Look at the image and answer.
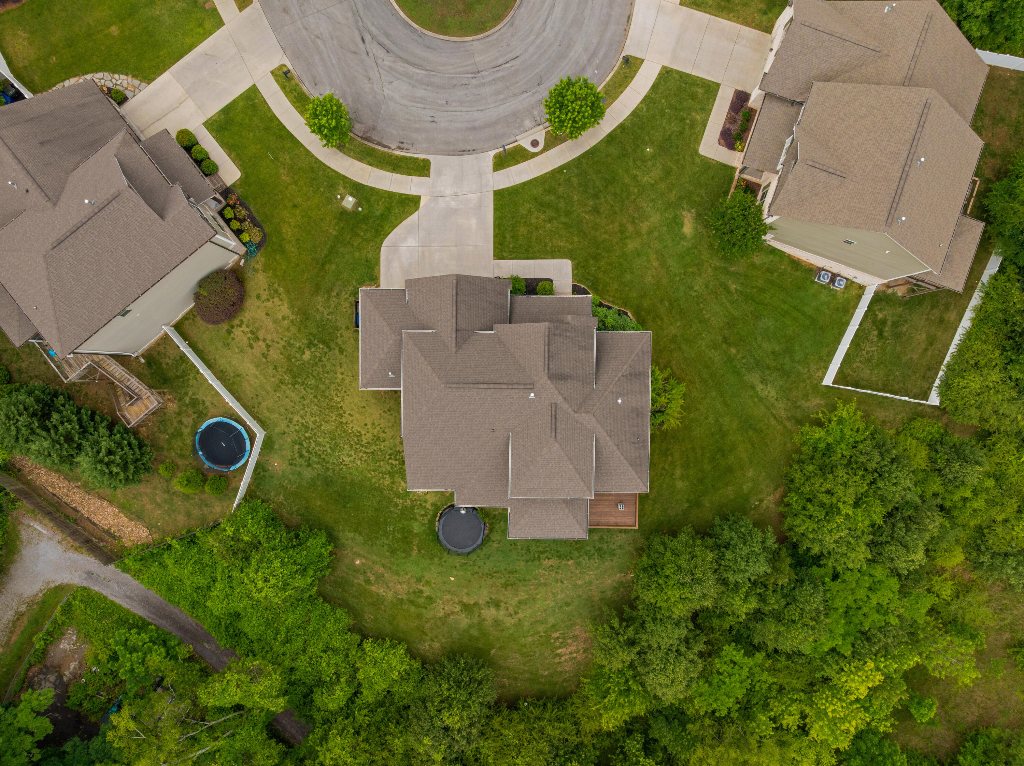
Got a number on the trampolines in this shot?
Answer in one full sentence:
Looking from above, you can make out 2 trampolines.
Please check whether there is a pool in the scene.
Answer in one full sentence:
No, no pool can be seen from above.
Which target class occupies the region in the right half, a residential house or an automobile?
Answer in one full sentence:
The one visible in the right half is a residential house.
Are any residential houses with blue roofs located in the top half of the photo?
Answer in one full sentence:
No, no residential house with a blue roof is visible in the top half of the photo.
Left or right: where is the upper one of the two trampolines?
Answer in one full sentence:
The upper one of the two trampolines sits on the left side.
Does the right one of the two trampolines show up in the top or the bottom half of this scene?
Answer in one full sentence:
The bottom half of the photo is where the right one of the two trampolines is.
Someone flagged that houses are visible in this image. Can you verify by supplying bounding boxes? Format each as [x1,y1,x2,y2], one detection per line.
[0,77,251,361]
[727,0,992,299]
[357,274,653,541]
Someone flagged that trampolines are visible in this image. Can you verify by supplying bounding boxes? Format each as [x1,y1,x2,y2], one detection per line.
[186,417,253,472]
[437,506,487,557]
